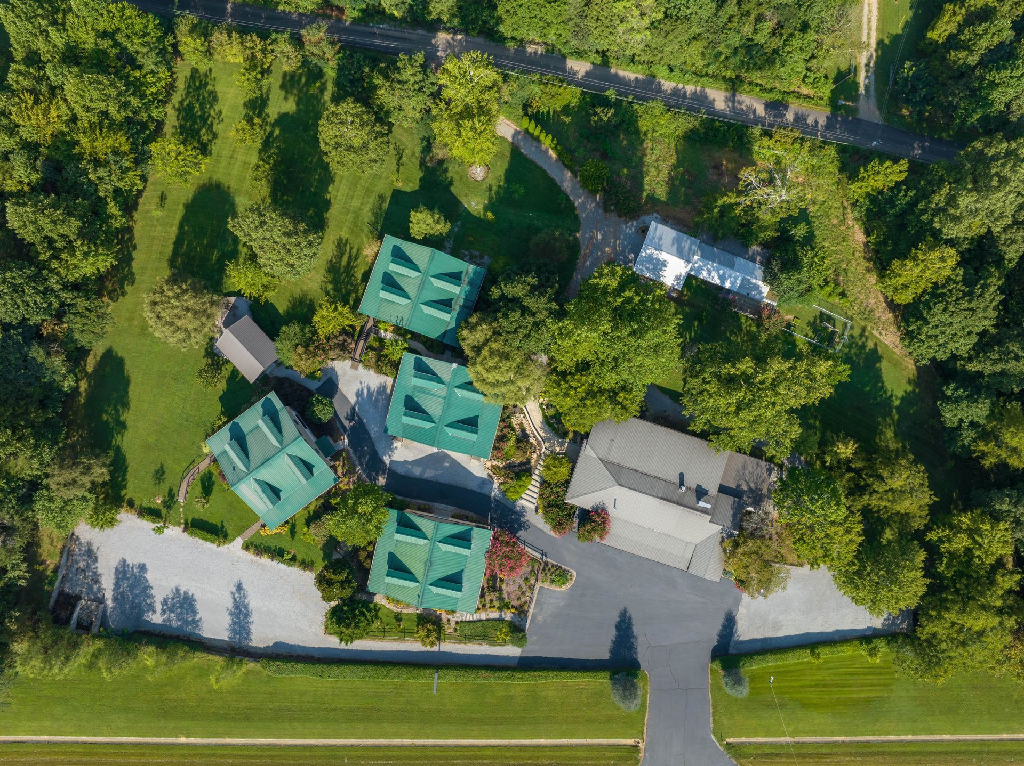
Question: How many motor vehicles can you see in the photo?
0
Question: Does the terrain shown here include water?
No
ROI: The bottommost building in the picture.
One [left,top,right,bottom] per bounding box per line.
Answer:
[367,507,494,615]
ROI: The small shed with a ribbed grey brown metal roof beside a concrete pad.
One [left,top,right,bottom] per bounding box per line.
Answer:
[216,315,281,383]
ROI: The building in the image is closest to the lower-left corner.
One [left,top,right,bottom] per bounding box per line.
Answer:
[205,391,343,531]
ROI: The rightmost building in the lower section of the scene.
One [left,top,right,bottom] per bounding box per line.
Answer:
[565,410,772,583]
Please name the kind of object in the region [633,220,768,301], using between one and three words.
house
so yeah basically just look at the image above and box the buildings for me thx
[205,391,343,531]
[565,410,772,583]
[367,507,494,615]
[216,315,281,383]
[358,235,487,347]
[633,220,768,301]
[383,353,507,460]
